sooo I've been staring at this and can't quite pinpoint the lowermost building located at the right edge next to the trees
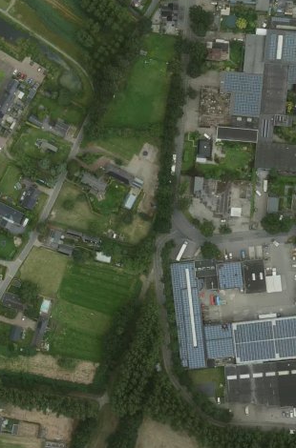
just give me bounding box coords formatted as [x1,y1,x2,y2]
[223,360,296,407]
